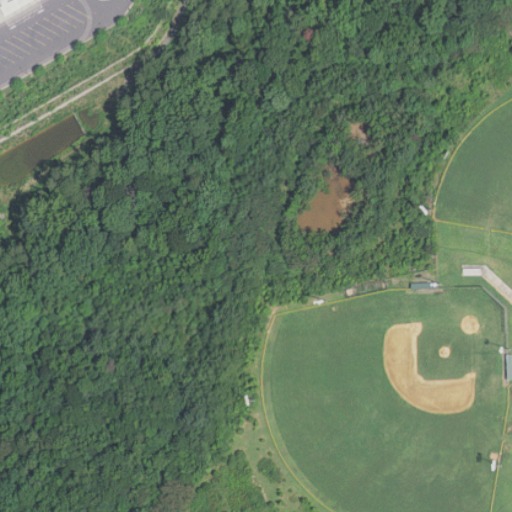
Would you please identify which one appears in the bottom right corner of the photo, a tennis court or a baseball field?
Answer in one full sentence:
There is a baseball field in the bottom right corner of the photo.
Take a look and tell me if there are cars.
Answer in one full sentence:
No, the scene contains no car.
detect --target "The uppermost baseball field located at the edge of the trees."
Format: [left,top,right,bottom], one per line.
[435,100,512,232]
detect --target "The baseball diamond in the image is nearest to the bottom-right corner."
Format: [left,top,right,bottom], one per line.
[262,288,507,512]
